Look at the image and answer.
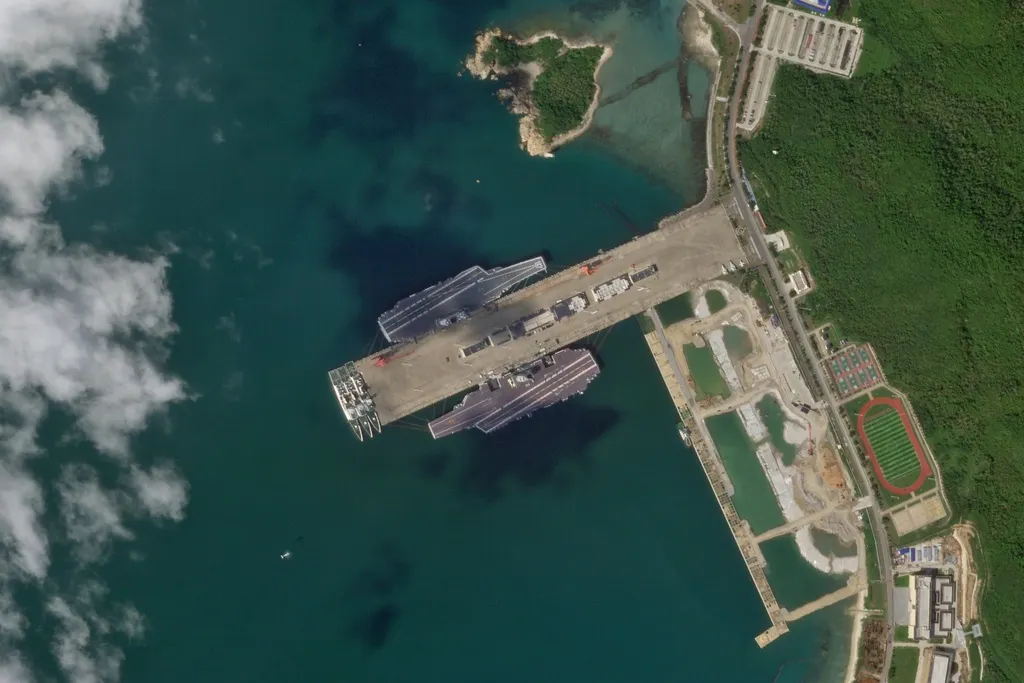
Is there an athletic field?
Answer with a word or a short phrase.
Yes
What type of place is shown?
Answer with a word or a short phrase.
port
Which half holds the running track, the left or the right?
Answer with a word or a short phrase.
right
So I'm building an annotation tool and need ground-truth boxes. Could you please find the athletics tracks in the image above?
[857,391,928,493]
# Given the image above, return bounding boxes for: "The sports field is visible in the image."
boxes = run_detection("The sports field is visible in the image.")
[863,404,921,487]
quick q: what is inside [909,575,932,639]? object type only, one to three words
building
